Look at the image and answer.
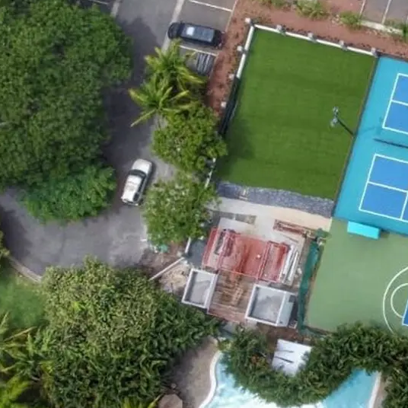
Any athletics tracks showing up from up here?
No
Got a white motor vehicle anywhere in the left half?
Yes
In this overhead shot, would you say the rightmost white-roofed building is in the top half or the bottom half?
bottom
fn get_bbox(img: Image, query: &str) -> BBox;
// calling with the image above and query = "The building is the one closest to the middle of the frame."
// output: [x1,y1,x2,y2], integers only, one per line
[183,219,300,330]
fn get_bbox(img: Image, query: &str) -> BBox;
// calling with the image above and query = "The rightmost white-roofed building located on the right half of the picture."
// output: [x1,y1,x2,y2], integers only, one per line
[272,341,315,376]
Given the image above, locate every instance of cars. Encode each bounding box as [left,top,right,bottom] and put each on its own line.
[121,160,153,205]
[173,24,219,48]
